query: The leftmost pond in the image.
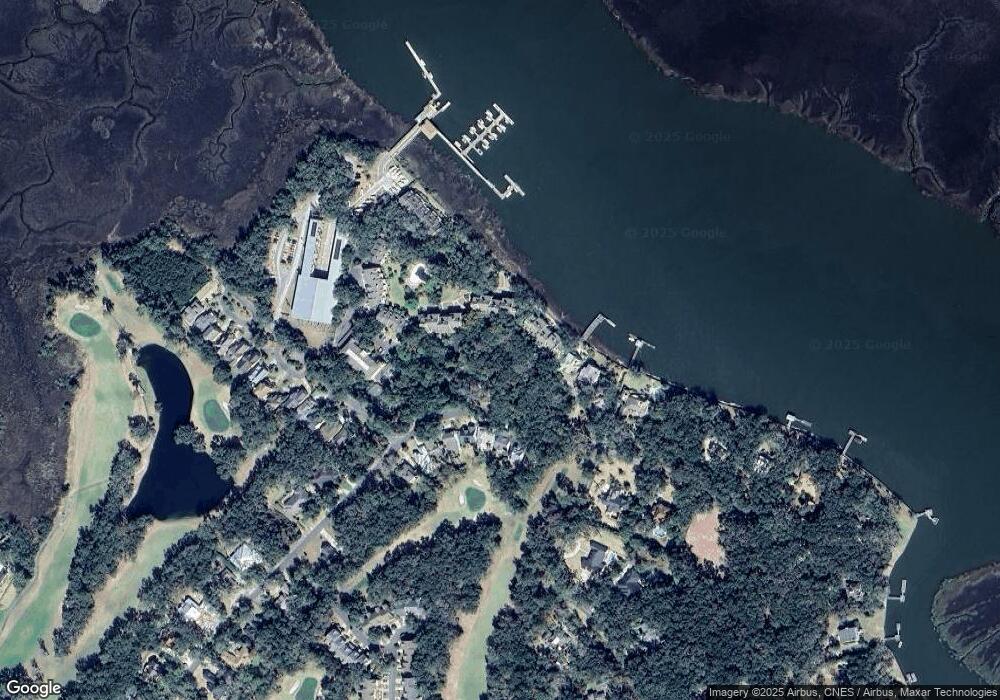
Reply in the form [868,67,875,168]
[128,345,230,518]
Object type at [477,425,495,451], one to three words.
house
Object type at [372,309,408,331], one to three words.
building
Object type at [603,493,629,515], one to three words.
house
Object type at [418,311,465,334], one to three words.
building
